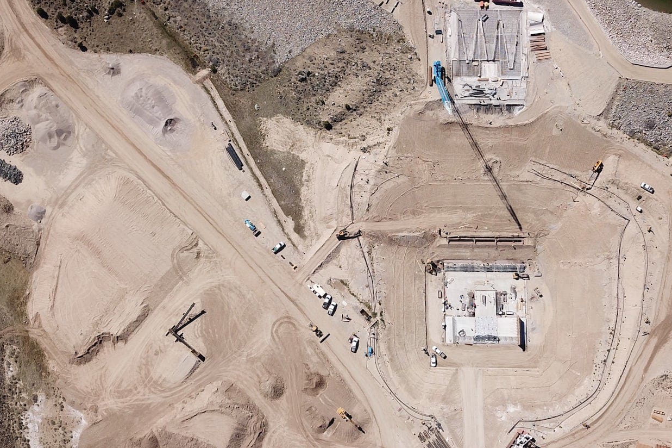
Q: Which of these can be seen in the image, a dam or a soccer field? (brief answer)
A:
dam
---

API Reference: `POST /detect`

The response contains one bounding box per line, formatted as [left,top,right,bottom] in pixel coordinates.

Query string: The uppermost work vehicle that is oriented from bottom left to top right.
[579,158,605,194]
